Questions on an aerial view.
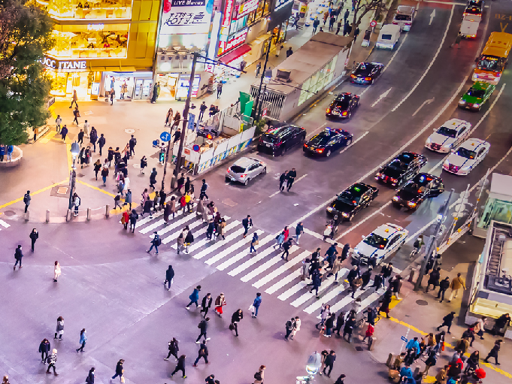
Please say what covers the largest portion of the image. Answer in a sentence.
For the most part, this view shows paved ground.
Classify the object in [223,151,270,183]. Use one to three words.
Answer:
car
